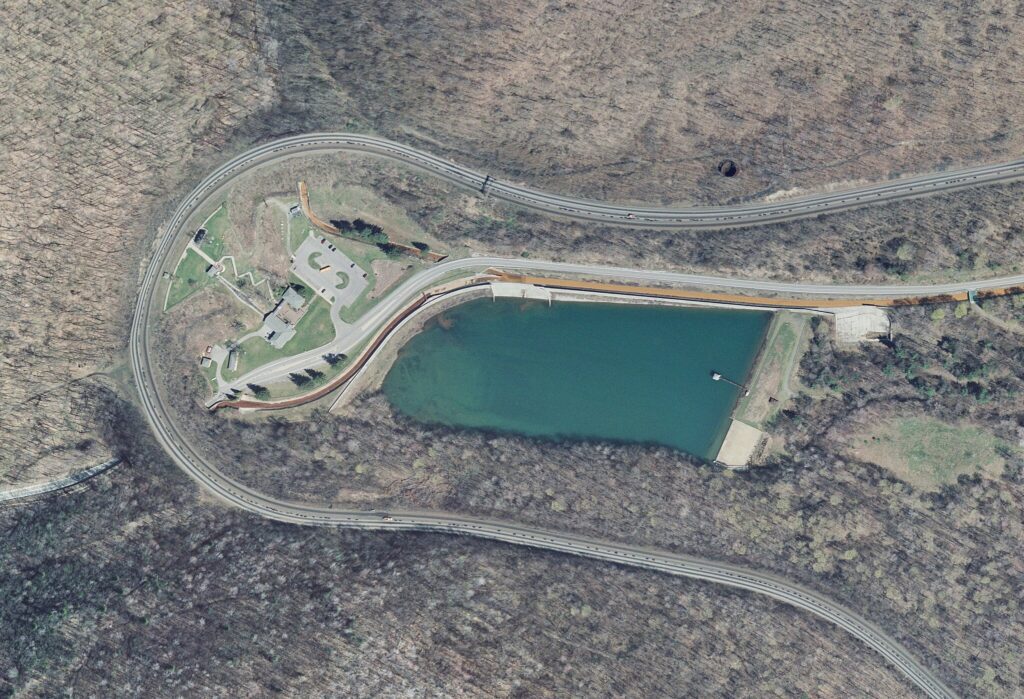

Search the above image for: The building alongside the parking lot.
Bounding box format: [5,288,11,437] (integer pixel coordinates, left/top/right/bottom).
[264,287,308,348]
